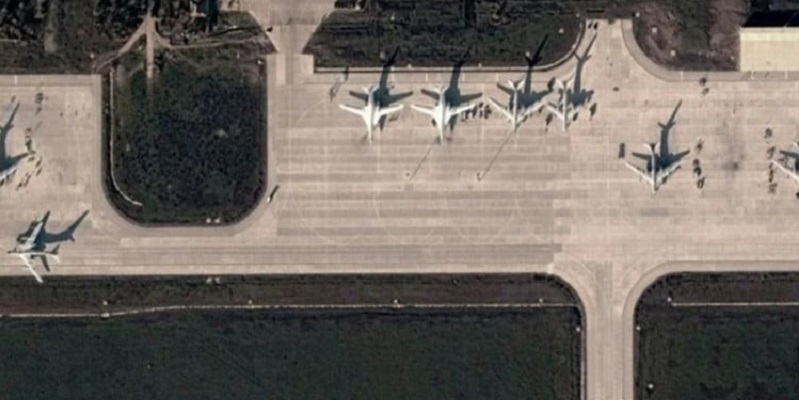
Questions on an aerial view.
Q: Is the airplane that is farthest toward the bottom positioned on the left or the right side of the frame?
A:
left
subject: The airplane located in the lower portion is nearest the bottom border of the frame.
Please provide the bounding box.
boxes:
[9,221,61,281]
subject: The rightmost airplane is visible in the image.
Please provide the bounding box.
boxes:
[772,141,799,192]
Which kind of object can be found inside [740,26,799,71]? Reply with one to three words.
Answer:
hangar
